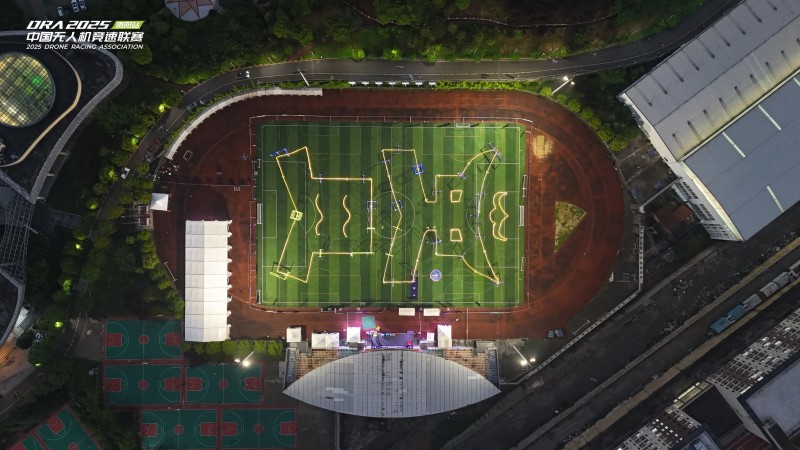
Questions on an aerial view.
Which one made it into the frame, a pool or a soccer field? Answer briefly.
soccer field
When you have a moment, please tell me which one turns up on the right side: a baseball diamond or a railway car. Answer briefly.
railway car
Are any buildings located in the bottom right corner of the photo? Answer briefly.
Yes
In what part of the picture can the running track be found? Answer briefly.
center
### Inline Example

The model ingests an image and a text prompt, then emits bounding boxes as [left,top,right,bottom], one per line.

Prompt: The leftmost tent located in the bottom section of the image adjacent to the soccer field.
[185,219,232,343]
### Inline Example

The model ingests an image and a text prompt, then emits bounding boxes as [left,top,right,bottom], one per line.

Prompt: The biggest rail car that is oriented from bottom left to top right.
[711,304,748,334]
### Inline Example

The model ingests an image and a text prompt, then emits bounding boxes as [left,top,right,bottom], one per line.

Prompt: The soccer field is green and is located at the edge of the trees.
[257,122,526,307]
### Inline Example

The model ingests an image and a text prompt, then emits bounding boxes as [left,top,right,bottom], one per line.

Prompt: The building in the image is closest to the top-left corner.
[0,29,136,205]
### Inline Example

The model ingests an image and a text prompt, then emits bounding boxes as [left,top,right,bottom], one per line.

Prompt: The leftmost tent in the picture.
[151,193,169,210]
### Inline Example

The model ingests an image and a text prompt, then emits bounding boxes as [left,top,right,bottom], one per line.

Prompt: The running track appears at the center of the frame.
[156,89,626,340]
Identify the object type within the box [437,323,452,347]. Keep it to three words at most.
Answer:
tent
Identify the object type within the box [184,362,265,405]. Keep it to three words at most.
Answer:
basketball court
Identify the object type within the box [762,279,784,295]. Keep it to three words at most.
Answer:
rail car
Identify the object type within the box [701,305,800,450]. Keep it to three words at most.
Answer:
building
